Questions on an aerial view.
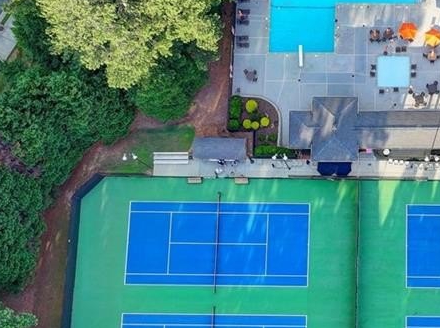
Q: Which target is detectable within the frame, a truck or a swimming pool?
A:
swimming pool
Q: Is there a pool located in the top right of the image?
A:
Yes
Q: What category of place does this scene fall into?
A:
sports ground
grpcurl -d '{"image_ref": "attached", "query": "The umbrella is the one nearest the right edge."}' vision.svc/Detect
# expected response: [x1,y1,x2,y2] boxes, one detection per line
[426,30,440,45]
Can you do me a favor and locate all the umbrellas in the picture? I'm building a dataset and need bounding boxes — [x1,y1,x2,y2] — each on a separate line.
[426,30,440,45]
[400,23,417,40]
